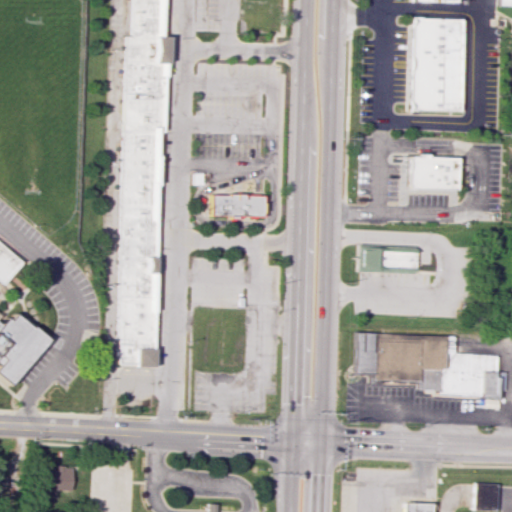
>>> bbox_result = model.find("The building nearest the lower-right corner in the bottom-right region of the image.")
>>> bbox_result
[472,484,502,512]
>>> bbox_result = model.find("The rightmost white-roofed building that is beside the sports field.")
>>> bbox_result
[116,0,176,368]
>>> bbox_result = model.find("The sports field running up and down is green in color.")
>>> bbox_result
[0,0,90,266]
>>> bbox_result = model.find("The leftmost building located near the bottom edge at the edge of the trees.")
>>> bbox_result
[58,466,76,492]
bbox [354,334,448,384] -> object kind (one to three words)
building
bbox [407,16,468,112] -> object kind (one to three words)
building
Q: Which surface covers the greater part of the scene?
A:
paved ground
